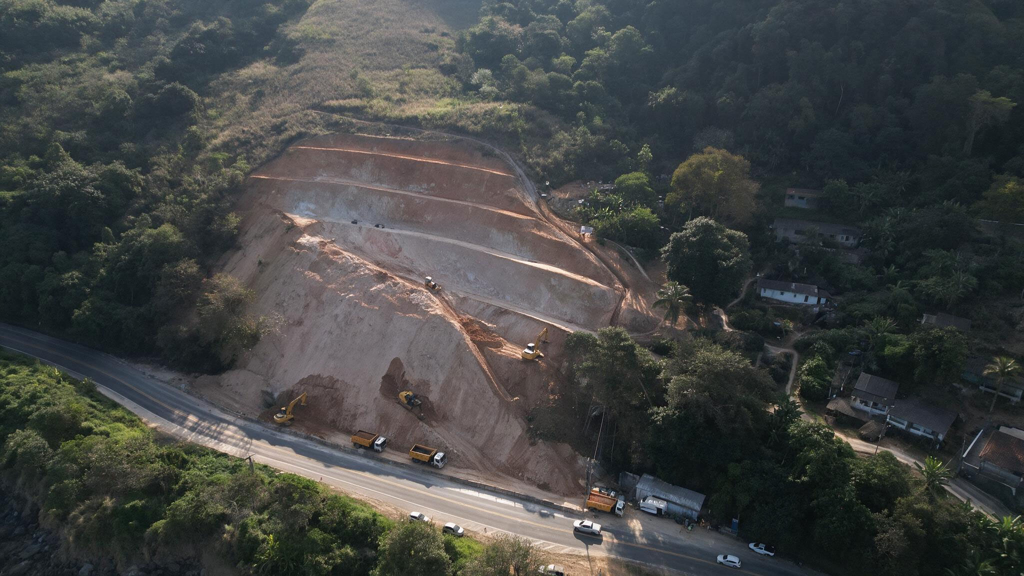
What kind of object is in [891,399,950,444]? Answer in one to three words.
house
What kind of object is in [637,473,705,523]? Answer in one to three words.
shed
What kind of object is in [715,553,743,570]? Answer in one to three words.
car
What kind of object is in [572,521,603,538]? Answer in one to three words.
vehicle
